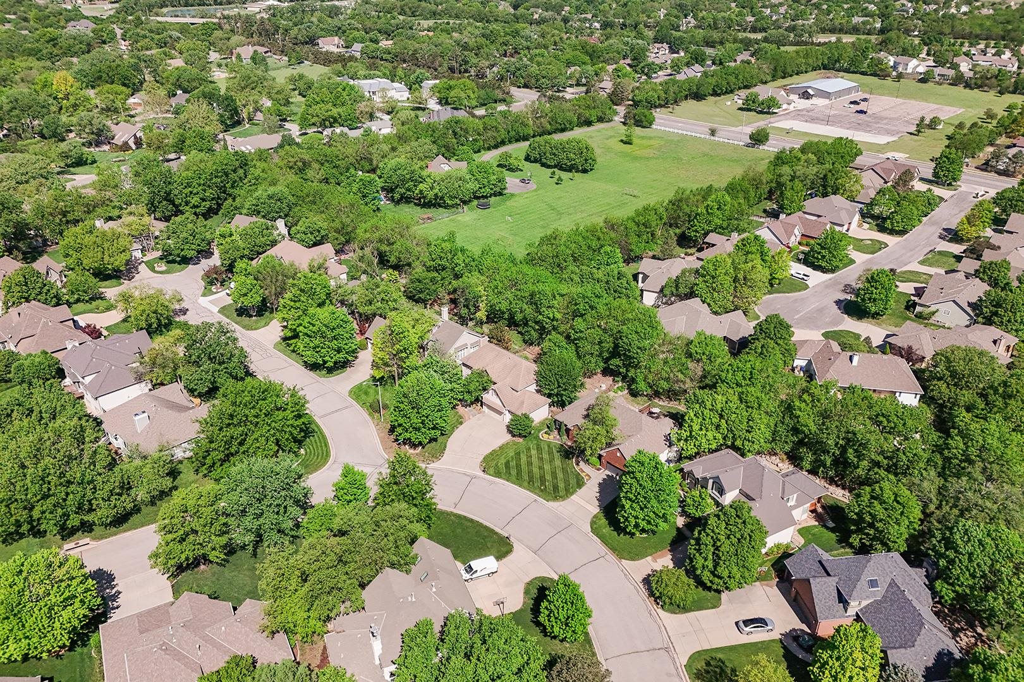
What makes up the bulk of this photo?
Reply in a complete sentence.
What you mostly see from above here is trees.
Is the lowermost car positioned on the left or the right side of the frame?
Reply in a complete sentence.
The lowermost car is on the right side of the image.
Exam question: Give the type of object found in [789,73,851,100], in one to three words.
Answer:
building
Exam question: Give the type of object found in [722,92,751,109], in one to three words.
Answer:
house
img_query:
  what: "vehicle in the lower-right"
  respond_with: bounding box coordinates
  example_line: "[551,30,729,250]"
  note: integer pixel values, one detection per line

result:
[738,614,779,634]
